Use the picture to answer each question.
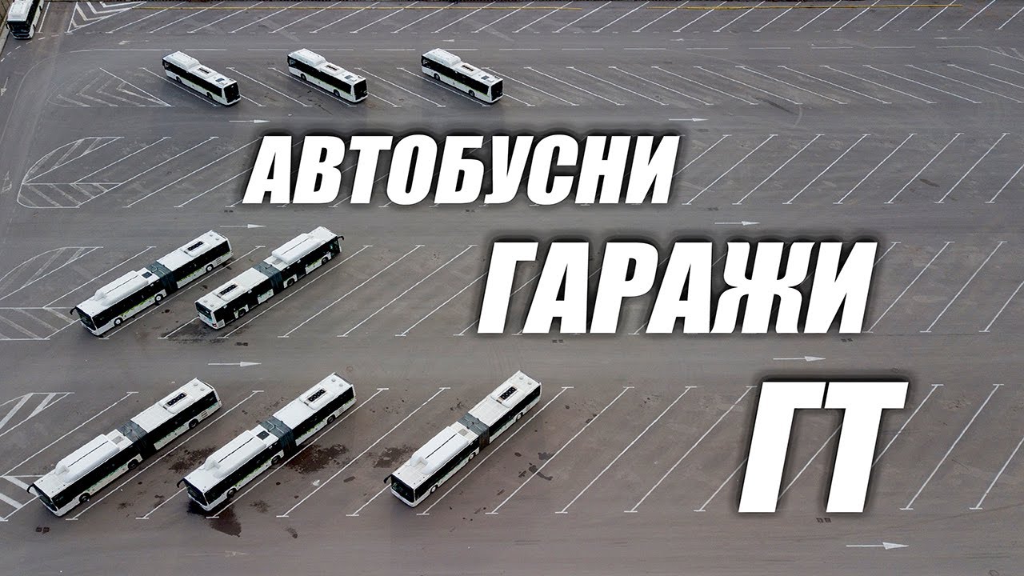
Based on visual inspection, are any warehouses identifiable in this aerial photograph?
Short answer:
No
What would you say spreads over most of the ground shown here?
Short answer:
paved ground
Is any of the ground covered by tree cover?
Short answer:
No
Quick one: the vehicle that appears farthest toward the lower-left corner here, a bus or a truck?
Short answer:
bus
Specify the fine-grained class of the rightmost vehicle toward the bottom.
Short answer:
bus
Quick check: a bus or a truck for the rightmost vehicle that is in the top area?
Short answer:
bus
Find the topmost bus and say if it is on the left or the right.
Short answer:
left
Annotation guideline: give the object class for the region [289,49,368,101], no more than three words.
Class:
bus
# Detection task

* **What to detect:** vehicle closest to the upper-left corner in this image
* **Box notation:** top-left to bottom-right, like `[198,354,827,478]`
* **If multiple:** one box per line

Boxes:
[5,0,44,38]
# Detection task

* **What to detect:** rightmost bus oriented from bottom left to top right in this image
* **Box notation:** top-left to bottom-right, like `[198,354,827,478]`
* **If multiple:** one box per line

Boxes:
[384,371,540,506]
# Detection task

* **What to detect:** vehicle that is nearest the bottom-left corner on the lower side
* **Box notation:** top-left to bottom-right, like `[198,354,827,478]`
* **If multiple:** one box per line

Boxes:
[27,378,217,515]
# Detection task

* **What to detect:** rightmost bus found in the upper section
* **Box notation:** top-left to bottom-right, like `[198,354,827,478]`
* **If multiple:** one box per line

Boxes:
[423,50,503,102]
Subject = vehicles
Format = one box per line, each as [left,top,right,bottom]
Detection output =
[71,231,231,334]
[289,49,368,101]
[27,378,217,515]
[384,371,540,506]
[178,373,354,508]
[165,52,240,104]
[5,0,44,38]
[423,50,503,102]
[198,227,344,330]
